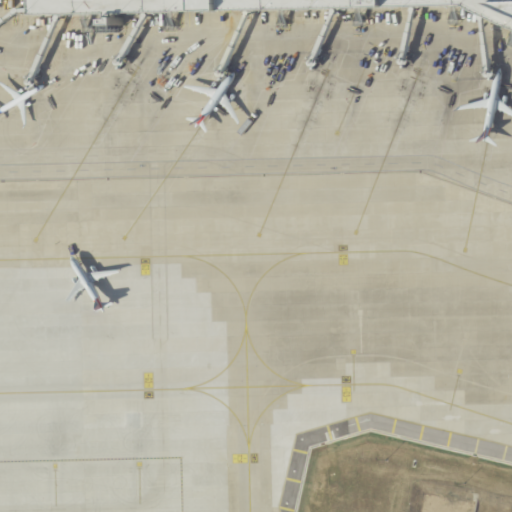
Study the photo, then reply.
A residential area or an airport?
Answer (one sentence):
It's an airport.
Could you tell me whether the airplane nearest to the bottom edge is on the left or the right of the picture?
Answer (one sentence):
You can find the airplane nearest to the bottom edge on the left side of the picture.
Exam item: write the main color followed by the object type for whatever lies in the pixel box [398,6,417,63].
white jet bridge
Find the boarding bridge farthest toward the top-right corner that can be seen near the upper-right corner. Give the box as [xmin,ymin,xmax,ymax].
[478,12,494,76]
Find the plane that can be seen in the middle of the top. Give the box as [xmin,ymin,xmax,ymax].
[186,74,236,134]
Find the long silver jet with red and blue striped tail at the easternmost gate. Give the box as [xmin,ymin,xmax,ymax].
[454,70,512,144]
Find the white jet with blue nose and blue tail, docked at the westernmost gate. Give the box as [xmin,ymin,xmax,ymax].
[0,78,44,126]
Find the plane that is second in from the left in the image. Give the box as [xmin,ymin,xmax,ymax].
[65,256,114,318]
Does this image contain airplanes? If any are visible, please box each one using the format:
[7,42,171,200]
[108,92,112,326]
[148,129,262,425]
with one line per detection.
[454,70,512,144]
[0,78,44,126]
[65,256,114,318]
[186,74,236,134]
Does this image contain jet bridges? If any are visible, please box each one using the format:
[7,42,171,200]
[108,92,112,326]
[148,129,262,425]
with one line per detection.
[25,14,62,83]
[115,14,150,64]
[478,12,494,76]
[220,10,252,74]
[398,6,417,63]
[308,8,338,64]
